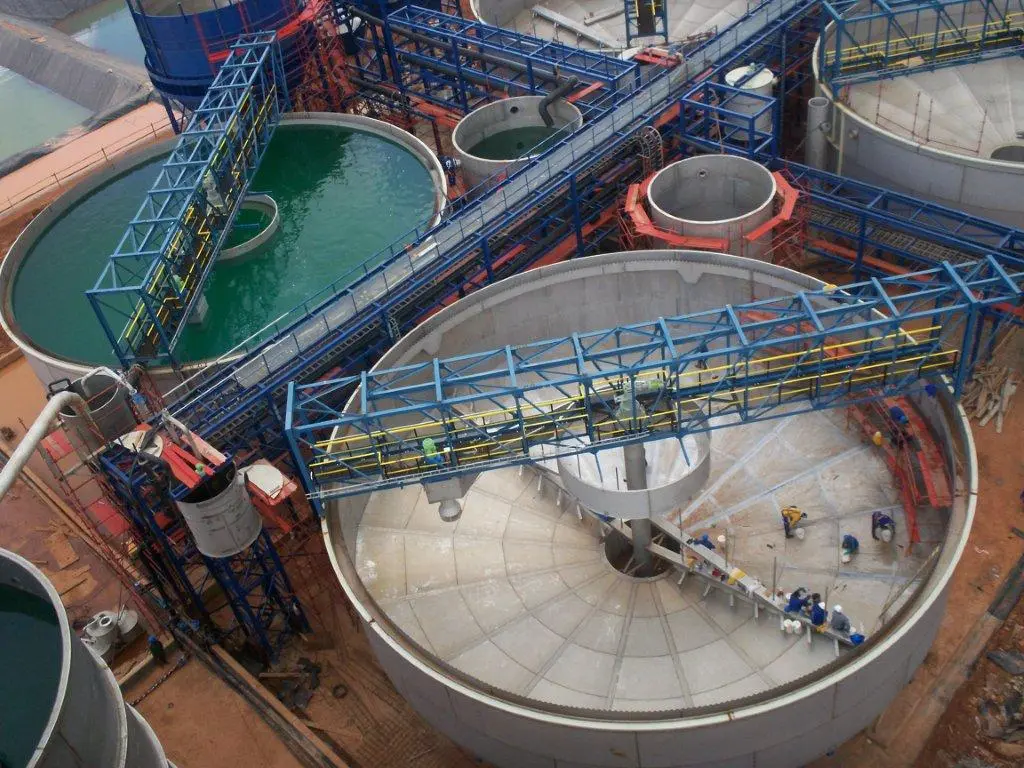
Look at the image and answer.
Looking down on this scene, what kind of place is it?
industrial area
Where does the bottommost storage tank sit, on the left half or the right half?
left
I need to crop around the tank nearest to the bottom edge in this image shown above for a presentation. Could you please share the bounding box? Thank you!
[0,546,197,768]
